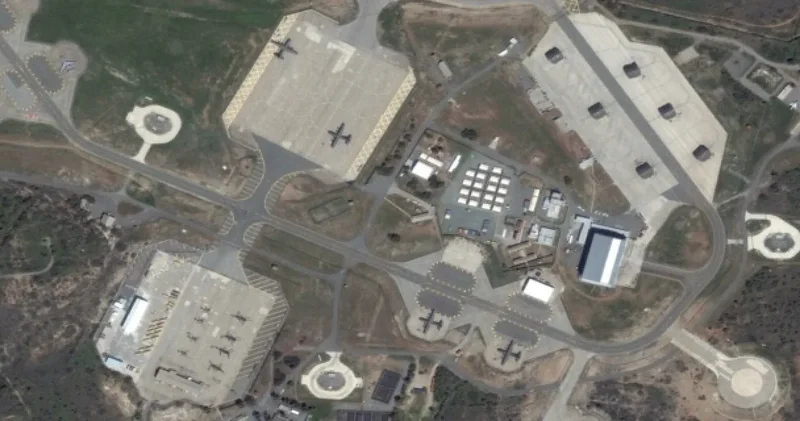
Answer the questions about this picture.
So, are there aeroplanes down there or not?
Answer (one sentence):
Yes, this view includes an aeroplane.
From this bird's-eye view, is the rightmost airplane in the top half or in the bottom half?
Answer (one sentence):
The rightmost airplane is in the bottom half of the image.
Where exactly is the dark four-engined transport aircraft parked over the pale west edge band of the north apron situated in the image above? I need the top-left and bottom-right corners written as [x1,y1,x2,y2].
[273,39,297,59]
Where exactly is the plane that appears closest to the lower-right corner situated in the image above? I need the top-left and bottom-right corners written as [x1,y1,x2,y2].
[498,339,519,365]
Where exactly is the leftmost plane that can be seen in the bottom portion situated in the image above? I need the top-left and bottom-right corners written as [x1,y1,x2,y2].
[420,308,441,333]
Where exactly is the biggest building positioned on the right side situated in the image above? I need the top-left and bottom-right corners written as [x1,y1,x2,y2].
[582,231,626,288]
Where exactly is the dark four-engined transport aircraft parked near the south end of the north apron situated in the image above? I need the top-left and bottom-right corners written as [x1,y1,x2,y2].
[329,122,349,147]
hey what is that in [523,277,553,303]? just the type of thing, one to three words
hangar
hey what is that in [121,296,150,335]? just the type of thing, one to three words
hangar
